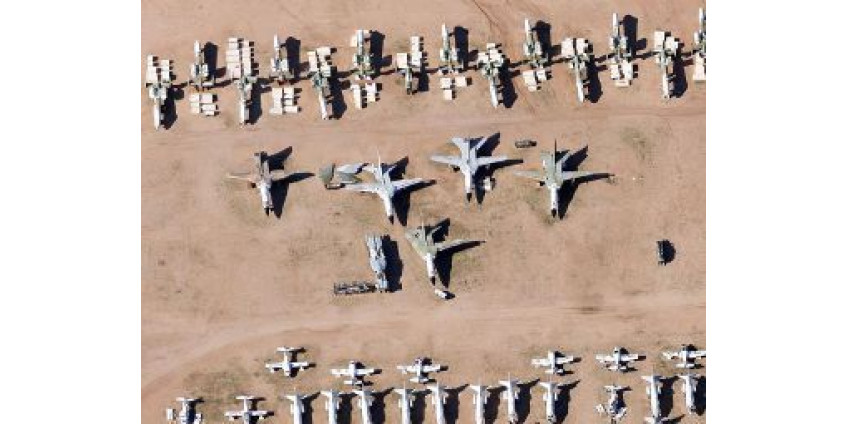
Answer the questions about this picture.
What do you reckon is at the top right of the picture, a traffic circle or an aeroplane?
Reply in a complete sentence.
The one visible at the top right of the picture is an aeroplane.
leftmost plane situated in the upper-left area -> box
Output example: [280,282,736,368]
[143,74,167,130]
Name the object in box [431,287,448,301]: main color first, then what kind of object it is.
white vehicle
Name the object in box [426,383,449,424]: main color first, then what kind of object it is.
white airplane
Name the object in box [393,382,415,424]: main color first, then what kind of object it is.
white airplane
